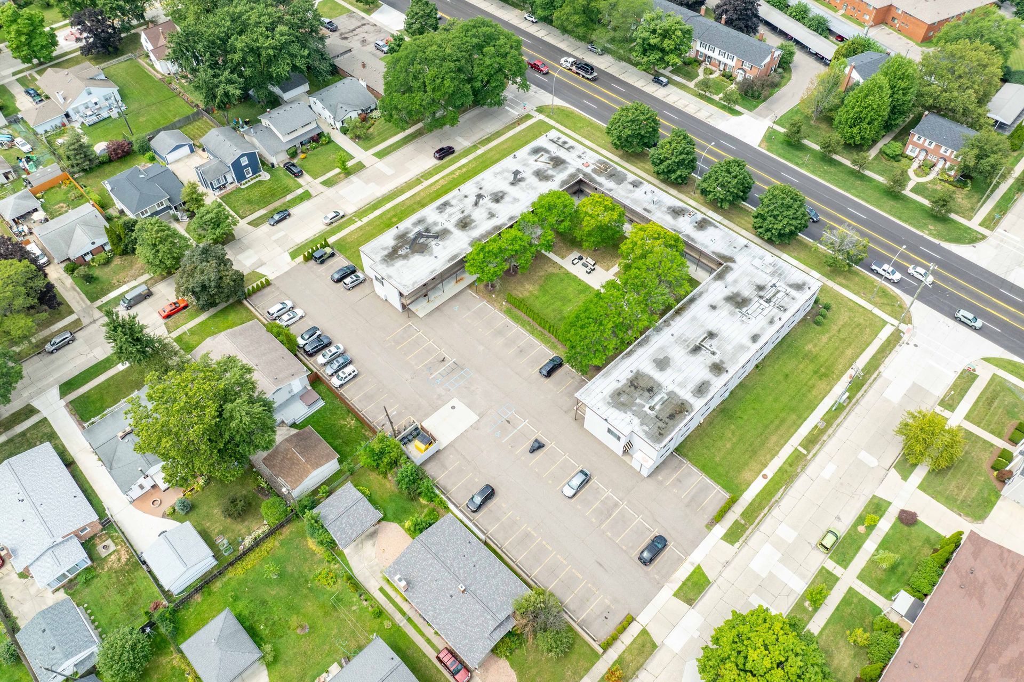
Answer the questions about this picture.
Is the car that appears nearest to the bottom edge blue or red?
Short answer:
red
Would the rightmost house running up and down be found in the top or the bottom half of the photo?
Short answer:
bottom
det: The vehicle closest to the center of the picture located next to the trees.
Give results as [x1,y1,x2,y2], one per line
[538,356,564,378]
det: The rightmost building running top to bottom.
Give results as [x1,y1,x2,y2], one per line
[995,456,1024,521]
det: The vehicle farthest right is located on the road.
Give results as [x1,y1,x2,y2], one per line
[953,308,985,331]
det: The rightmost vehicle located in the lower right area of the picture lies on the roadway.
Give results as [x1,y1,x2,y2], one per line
[817,528,841,553]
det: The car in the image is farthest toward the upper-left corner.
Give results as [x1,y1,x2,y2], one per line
[24,89,40,102]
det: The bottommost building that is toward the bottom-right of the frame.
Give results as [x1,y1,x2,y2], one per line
[876,530,1024,682]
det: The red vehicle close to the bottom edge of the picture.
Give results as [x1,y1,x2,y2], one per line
[436,646,471,682]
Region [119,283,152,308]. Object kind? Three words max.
vehicle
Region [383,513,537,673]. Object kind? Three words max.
house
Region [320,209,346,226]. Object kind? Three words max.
car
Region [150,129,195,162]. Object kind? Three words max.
building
